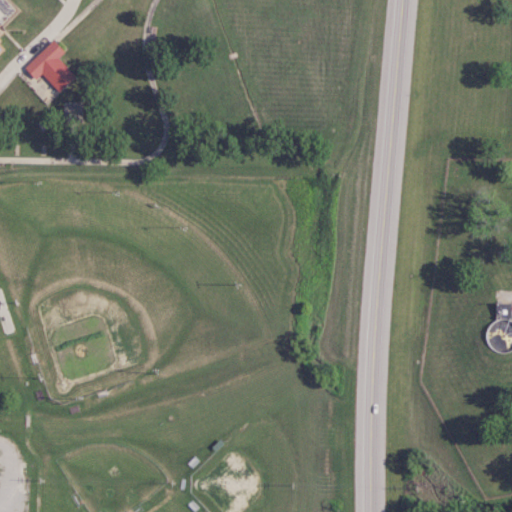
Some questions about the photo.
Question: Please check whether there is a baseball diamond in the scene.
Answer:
Yes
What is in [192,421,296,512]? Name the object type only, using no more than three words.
baseball field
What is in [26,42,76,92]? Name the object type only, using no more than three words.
house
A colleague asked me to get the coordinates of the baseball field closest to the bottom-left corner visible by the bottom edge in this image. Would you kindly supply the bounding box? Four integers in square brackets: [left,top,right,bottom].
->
[57,446,169,512]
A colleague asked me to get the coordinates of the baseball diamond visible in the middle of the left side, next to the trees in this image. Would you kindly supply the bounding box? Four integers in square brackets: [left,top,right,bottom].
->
[8,180,263,402]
